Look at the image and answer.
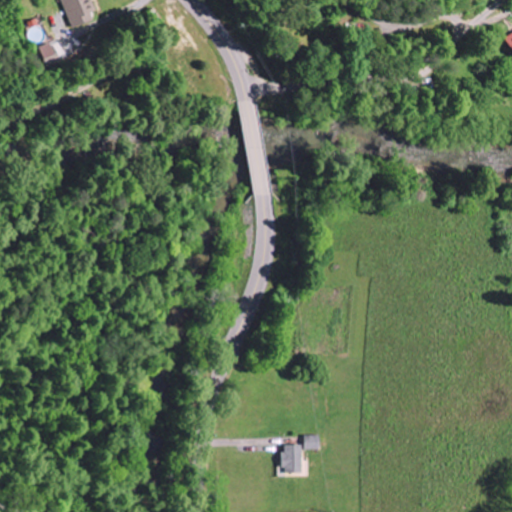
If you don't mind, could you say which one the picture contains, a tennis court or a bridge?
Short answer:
bridge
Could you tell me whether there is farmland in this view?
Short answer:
Yes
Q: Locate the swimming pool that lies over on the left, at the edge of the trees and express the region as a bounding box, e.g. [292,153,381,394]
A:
[26,25,44,44]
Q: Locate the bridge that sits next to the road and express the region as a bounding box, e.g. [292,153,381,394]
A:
[230,91,278,203]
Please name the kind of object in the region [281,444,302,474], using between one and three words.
house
